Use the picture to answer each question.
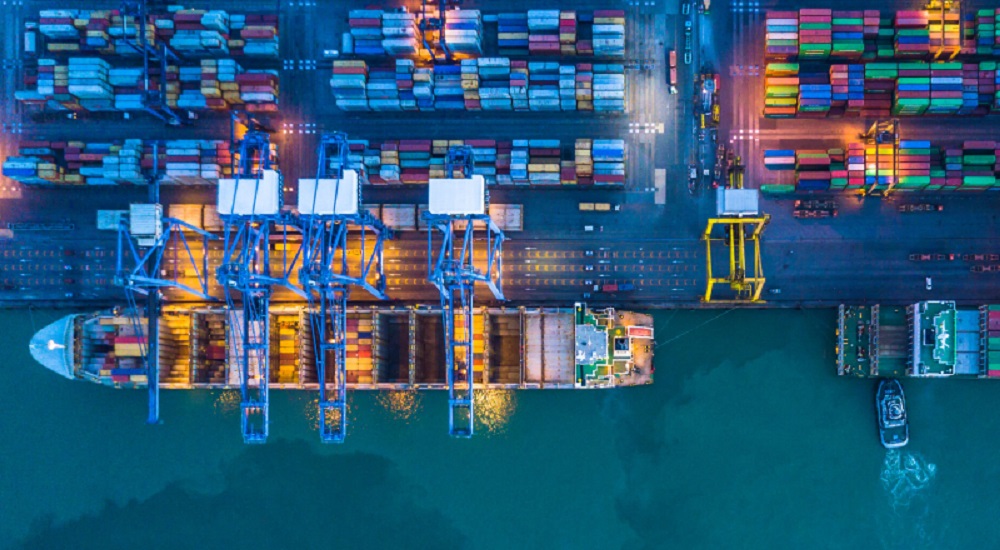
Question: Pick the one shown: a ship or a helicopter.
ship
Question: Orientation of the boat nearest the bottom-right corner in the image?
vertically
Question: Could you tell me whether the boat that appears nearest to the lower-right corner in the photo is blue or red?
blue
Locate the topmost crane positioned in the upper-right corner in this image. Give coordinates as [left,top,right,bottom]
[926,0,965,62]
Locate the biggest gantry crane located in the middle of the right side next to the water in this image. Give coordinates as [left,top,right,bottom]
[696,172,774,309]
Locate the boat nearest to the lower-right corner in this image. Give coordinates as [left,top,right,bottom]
[874,380,909,447]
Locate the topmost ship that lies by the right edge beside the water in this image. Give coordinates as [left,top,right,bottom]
[835,301,987,380]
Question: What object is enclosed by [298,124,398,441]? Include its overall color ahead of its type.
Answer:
blue container crane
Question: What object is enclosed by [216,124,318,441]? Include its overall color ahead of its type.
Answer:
blue container crane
